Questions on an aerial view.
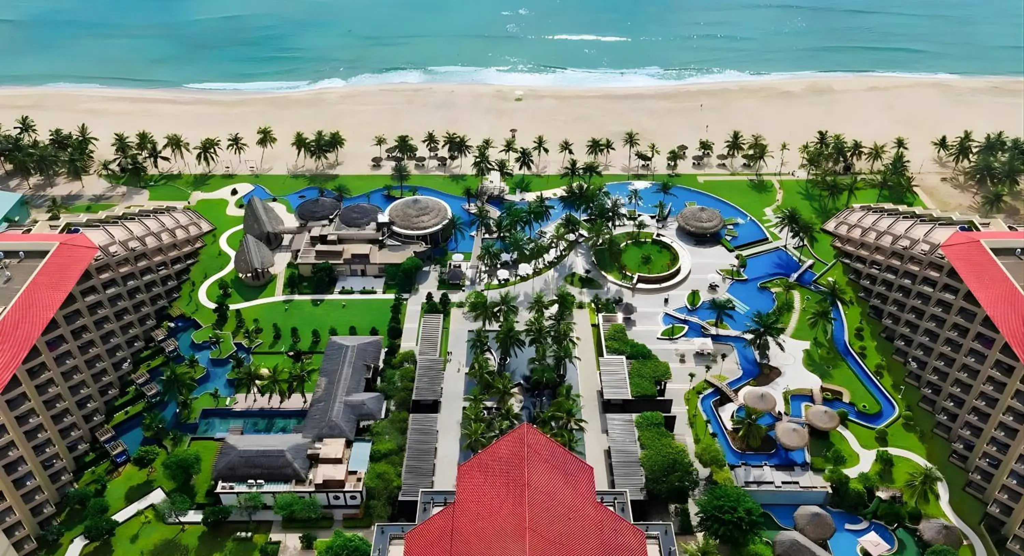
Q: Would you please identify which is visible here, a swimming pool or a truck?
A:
swimming pool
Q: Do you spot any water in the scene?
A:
Yes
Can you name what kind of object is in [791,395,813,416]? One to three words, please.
swimming pool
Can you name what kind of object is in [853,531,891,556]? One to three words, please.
tent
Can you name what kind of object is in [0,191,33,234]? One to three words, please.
building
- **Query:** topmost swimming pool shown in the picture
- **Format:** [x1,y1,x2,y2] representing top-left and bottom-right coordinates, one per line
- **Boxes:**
[243,181,765,251]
